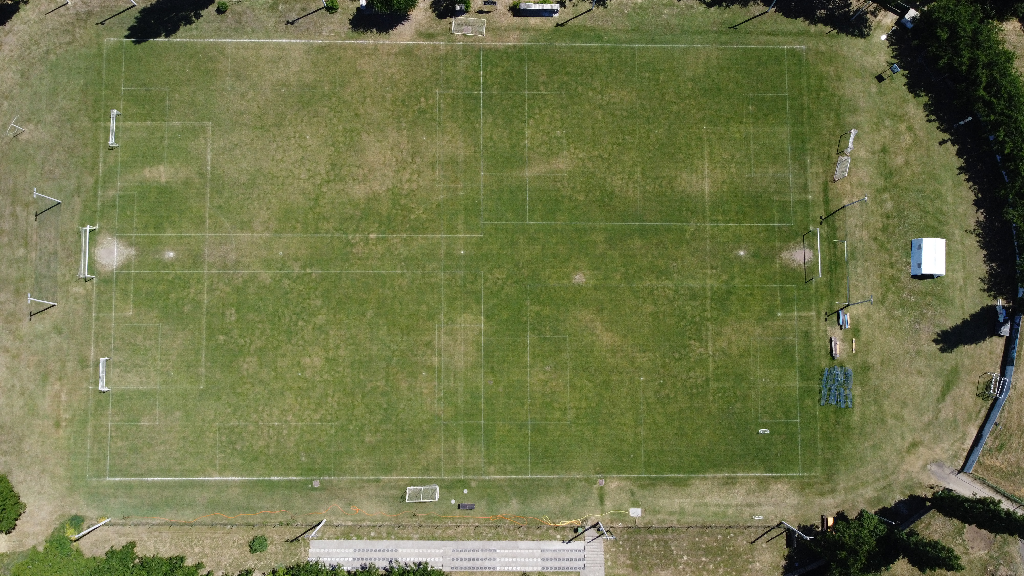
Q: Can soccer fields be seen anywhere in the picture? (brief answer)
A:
Yes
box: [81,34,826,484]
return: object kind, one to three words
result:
soccer field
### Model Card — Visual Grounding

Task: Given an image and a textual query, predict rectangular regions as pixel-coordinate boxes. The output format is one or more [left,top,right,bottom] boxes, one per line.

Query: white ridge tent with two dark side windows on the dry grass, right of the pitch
[911,236,946,281]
